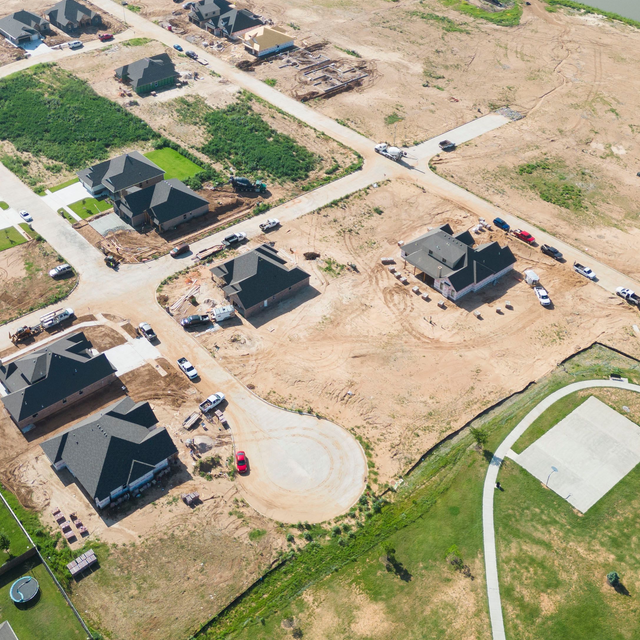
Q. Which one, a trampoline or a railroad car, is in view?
trampoline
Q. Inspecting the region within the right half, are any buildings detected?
Yes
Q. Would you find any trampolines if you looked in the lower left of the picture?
Yes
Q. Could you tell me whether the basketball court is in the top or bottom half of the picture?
bottom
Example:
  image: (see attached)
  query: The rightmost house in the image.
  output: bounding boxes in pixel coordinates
[400,216,522,300]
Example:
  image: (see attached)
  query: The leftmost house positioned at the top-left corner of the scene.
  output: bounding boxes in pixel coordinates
[0,10,53,46]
